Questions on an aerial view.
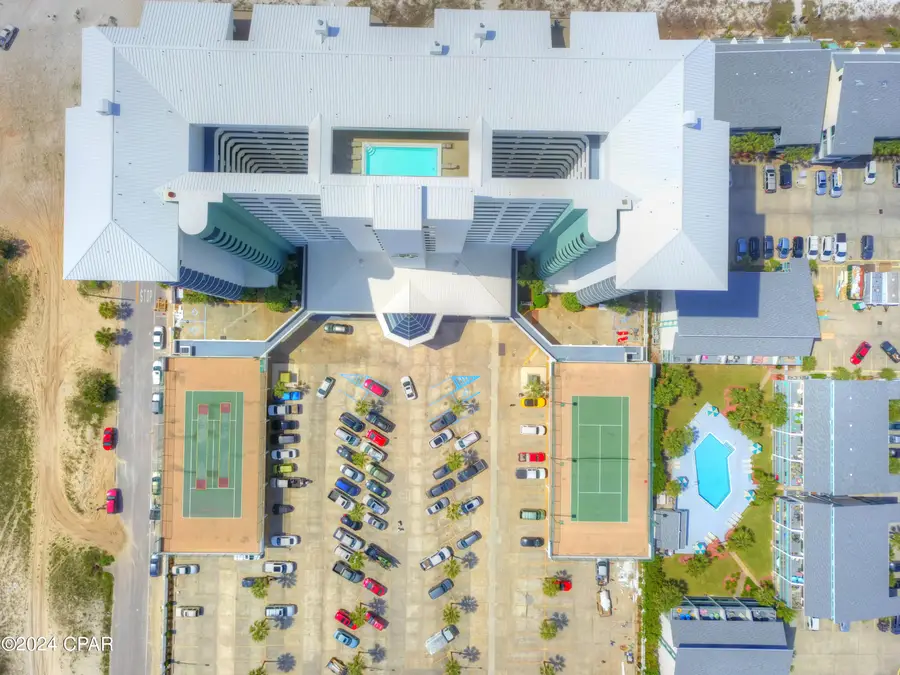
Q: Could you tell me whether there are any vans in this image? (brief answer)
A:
Yes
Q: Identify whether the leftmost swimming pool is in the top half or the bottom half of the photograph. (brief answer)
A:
top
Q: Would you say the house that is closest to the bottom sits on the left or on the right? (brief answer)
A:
right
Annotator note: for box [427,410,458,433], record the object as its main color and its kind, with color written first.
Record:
gray truck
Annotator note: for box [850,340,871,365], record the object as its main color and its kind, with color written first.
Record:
red car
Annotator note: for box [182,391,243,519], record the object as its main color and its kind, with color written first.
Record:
green sports court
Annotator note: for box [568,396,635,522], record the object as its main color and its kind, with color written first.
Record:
green tennis court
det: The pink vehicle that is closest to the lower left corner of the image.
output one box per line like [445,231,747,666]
[105,485,120,517]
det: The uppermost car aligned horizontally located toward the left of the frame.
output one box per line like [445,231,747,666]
[325,323,351,335]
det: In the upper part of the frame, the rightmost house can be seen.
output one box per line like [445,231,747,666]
[815,48,900,163]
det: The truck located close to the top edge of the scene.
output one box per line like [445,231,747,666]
[0,23,23,54]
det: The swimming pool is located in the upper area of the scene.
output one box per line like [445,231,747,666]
[362,143,440,178]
